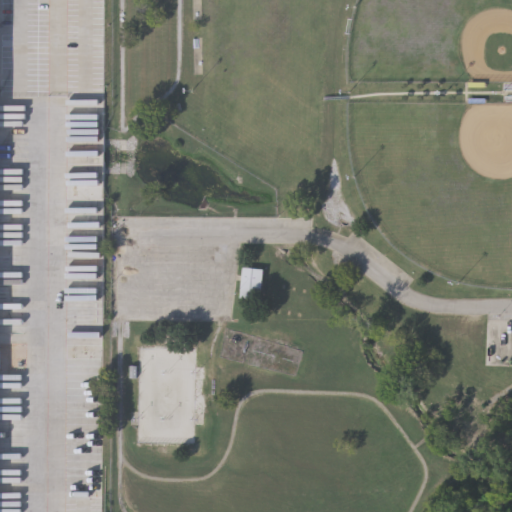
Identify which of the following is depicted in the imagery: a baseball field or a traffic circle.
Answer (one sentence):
The one in the frame is a baseball field.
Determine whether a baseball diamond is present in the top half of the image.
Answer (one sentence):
Yes, the scene does show a baseball diamond in the top half of the image.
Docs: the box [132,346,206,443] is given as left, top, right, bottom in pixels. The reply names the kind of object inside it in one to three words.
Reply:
sports court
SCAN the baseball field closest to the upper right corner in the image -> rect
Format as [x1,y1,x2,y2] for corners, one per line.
[348,0,512,82]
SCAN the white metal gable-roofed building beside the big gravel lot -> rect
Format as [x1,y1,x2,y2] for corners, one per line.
[239,266,264,298]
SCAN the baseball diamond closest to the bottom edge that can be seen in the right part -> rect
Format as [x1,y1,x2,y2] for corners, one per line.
[348,102,512,288]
